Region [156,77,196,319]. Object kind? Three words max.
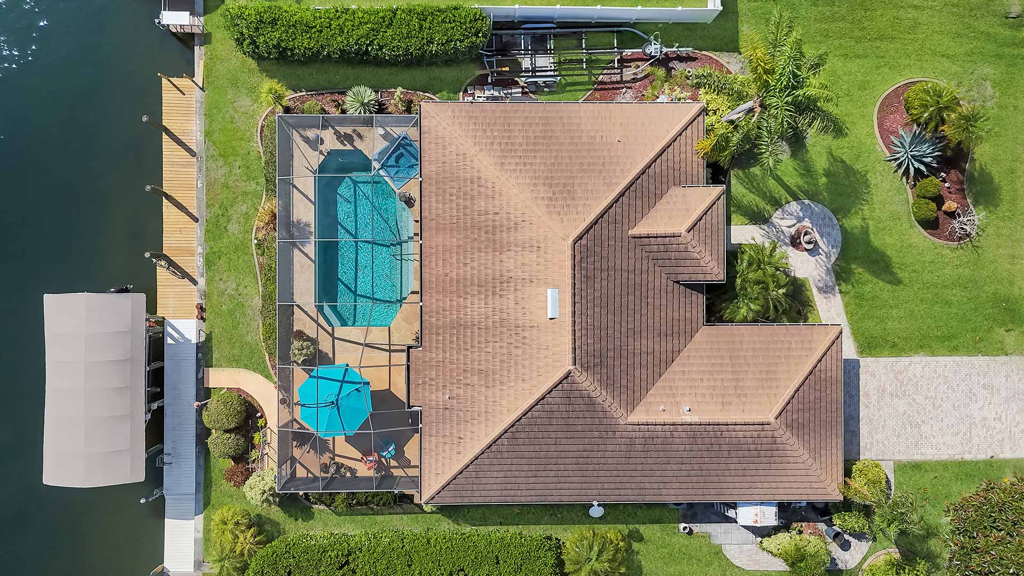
pier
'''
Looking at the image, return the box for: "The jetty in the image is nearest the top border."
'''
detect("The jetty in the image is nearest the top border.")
[169,0,194,33]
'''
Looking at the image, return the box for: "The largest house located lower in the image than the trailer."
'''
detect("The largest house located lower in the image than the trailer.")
[405,99,847,504]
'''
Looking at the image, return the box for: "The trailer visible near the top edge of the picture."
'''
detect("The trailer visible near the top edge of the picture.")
[485,14,694,84]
